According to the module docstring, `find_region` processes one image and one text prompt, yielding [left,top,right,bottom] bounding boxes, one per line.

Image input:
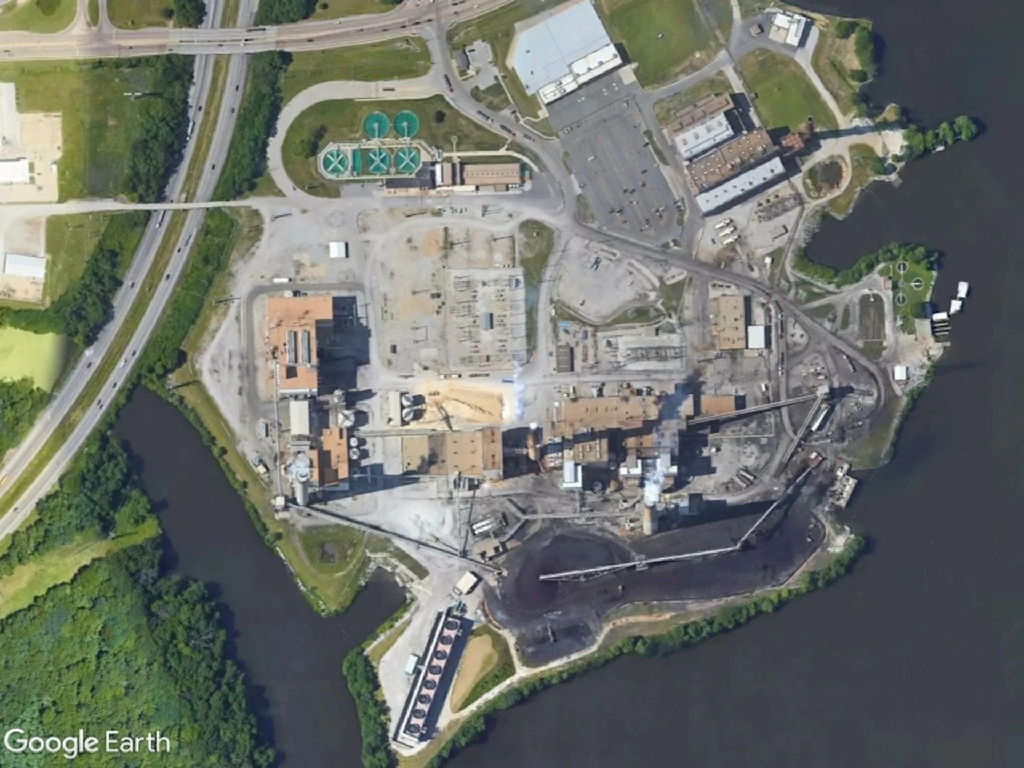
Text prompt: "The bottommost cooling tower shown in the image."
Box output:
[392,613,463,750]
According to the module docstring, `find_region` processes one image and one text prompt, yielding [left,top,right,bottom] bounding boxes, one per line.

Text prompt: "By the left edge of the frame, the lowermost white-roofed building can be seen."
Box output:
[4,253,45,279]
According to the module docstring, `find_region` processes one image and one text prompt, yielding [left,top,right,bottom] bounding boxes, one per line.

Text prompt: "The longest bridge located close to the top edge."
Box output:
[167,24,277,55]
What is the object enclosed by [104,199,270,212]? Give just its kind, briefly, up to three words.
bridge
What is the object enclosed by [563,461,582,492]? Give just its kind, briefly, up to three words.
building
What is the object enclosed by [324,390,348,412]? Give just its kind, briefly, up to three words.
silo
